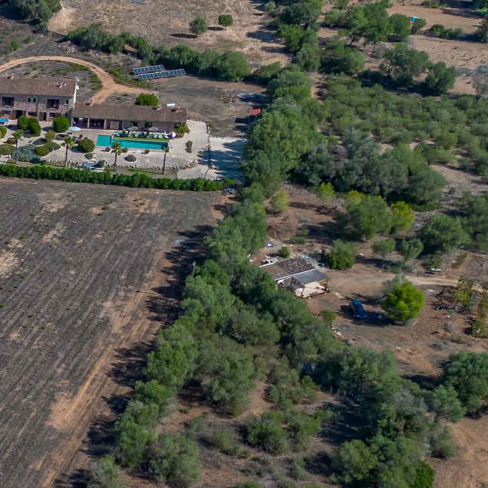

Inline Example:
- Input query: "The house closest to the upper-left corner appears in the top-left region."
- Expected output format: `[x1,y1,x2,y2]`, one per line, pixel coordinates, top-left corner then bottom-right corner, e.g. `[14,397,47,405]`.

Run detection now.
[0,73,82,123]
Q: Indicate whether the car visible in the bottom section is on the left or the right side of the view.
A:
right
